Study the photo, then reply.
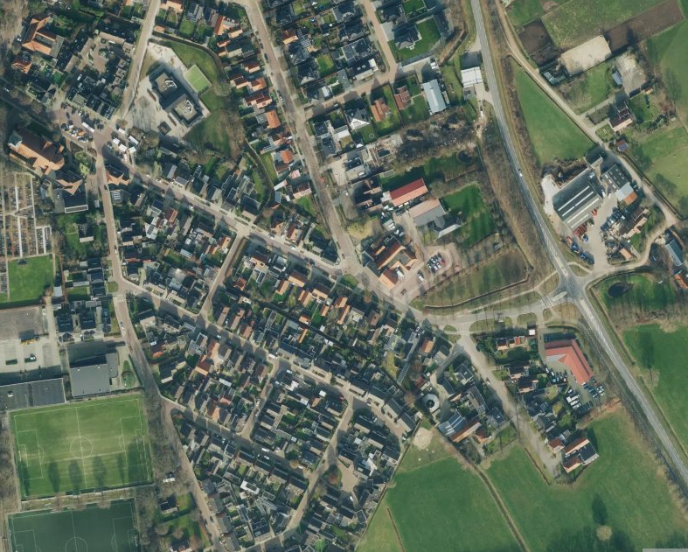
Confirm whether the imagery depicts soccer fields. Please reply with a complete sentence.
Yes, a soccer field is visible in the scene.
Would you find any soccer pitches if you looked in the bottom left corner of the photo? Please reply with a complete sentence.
Yes, a soccer pitch appears in the bottom left corner of the photo.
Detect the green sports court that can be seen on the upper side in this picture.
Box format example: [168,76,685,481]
[185,66,211,97]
